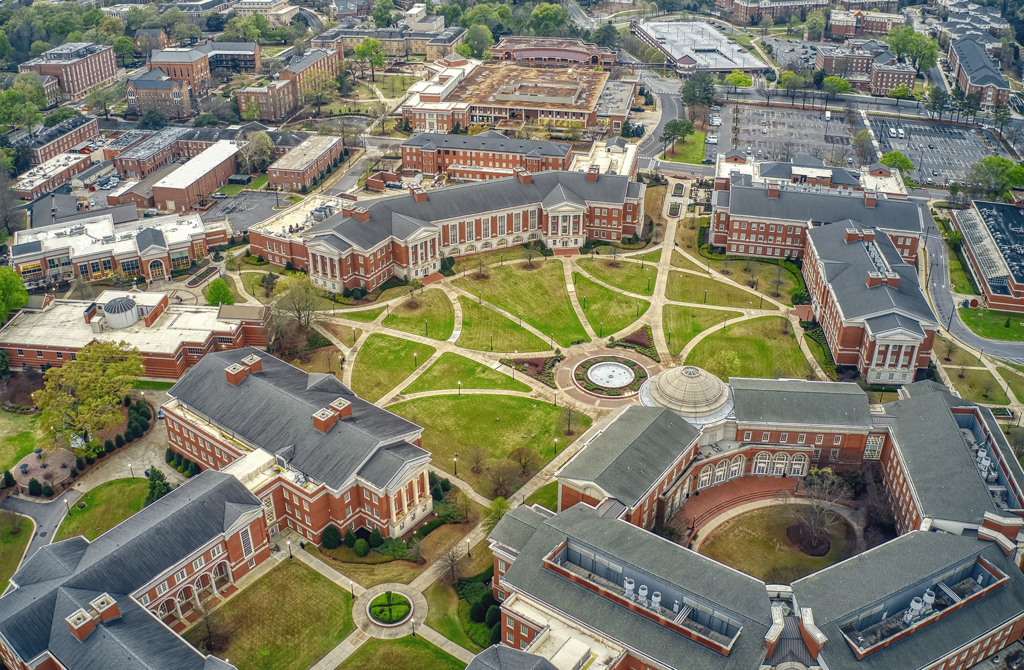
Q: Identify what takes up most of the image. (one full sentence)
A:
The largest share of the image is taken up by buildings.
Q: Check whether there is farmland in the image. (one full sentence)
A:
No, no farmland is visible.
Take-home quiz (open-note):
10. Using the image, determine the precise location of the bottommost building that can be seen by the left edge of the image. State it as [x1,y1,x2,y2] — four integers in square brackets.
[0,469,271,670]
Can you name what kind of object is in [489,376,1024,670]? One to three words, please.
building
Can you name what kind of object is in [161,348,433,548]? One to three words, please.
building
